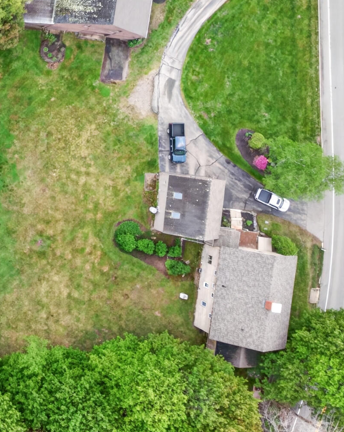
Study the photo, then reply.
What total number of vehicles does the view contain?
2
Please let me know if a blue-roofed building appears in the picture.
No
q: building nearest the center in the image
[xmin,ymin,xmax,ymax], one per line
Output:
[152,175,226,241]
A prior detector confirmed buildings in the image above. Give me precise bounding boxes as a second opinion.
[44,0,154,39]
[152,175,226,241]
[195,243,297,352]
